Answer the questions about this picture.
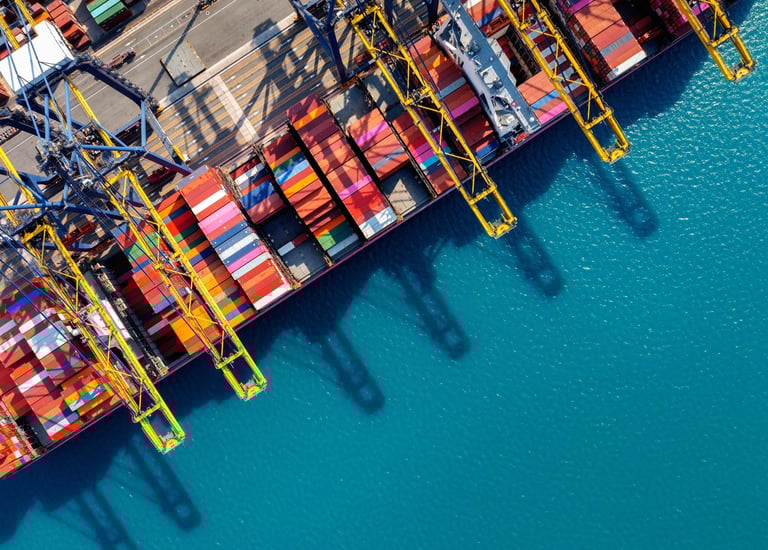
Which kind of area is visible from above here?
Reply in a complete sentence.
The picture captures a port.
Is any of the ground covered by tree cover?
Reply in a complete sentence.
No, no tree cover is visible.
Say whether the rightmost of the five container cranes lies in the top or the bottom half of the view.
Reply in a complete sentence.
You can find the rightmost of the five container cranes in the top half.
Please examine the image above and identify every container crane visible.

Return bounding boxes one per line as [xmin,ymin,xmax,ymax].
[284,0,518,239]
[0,0,268,401]
[669,0,757,86]
[0,98,188,454]
[413,0,633,165]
